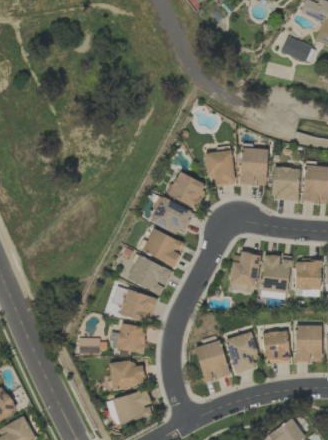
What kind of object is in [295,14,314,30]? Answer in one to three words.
swimming pool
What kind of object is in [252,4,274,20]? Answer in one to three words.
swimming pool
